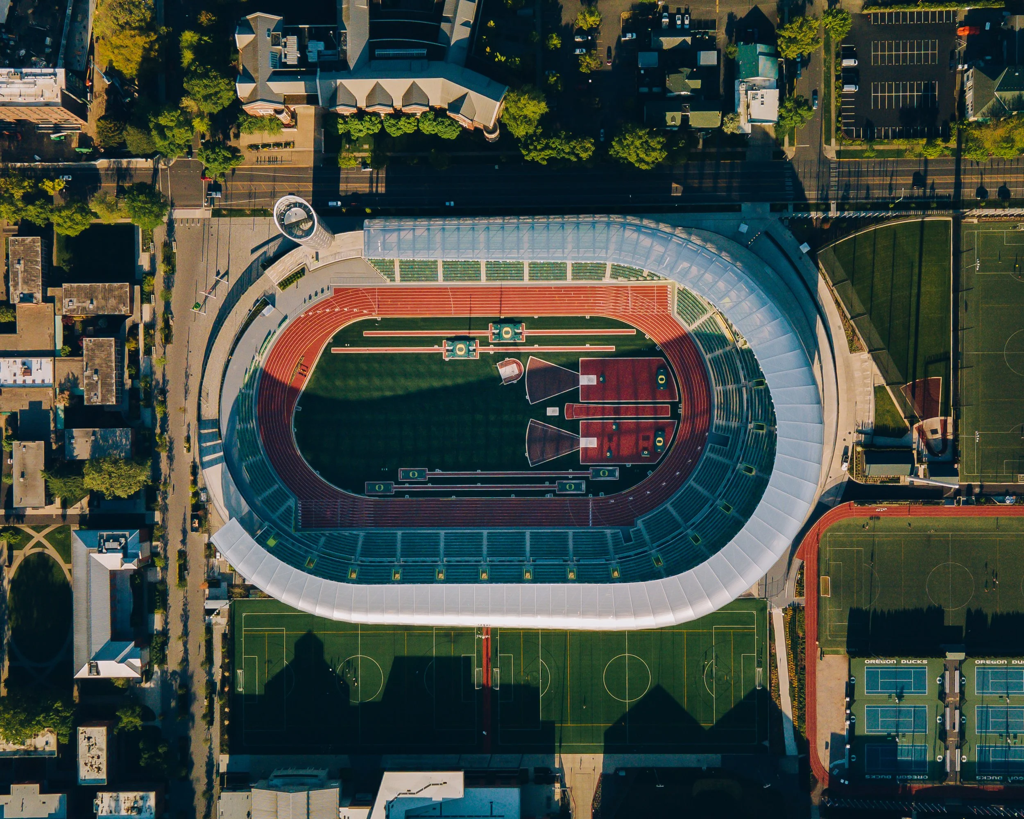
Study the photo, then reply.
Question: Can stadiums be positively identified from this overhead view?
Yes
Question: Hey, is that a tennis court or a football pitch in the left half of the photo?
football pitch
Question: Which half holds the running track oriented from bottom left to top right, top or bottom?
bottom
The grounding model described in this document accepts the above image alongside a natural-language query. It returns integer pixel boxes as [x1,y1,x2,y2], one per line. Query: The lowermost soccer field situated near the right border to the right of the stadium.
[818,517,1024,657]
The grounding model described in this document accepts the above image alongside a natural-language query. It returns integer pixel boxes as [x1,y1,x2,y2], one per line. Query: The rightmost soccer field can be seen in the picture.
[960,223,1024,482]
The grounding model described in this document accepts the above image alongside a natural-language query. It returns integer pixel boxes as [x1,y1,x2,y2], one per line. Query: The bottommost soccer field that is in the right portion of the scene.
[490,599,768,755]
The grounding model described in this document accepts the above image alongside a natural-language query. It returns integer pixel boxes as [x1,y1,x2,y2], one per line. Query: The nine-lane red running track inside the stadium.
[257,287,710,528]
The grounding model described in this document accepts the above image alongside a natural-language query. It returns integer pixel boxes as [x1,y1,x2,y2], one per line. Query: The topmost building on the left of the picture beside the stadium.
[233,0,510,147]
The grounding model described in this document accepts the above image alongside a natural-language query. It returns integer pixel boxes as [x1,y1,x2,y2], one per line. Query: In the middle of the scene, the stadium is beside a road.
[209,214,824,630]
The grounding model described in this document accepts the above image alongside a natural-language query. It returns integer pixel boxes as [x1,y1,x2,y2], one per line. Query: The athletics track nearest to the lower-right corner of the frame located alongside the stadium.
[796,502,1024,785]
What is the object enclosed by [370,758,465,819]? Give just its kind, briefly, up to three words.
building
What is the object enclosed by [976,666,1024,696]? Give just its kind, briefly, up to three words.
tennis court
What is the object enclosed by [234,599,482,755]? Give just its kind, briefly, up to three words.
soccer field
